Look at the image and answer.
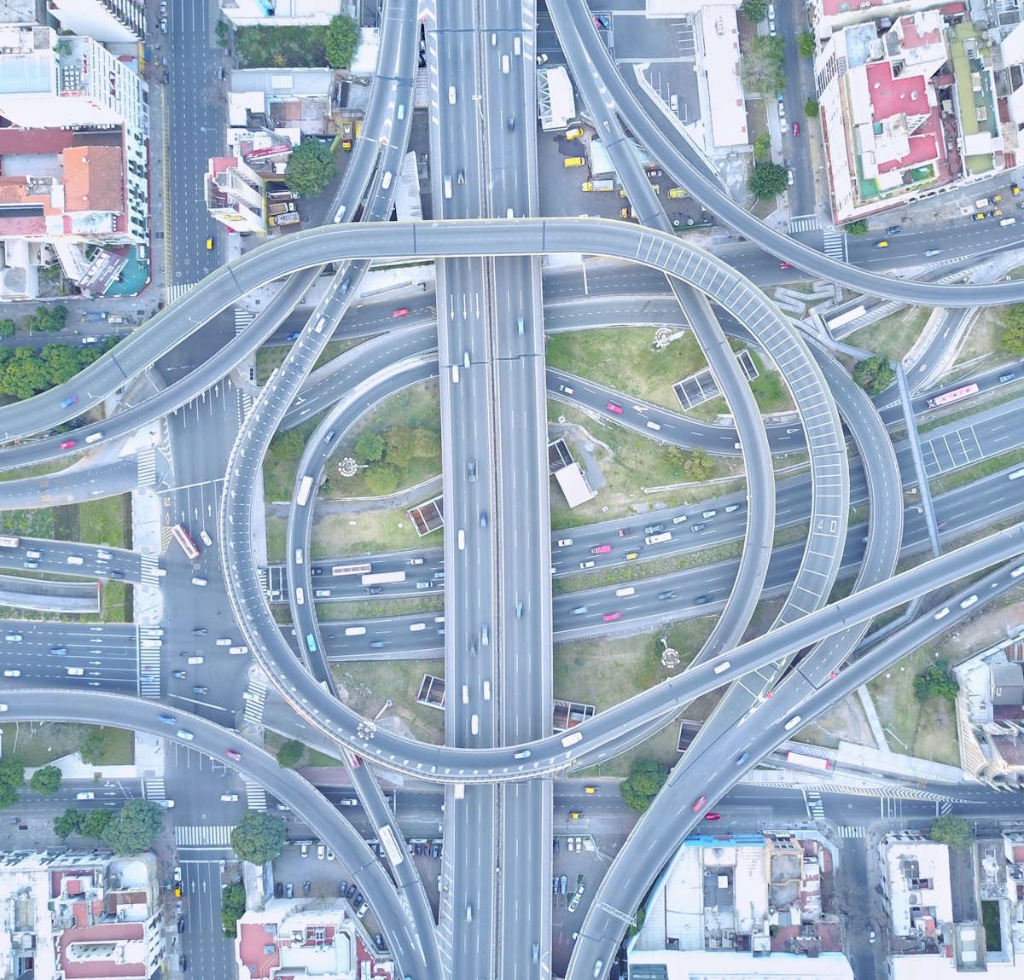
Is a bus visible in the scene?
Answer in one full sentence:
Yes, looking at the shot, I can spot a bus.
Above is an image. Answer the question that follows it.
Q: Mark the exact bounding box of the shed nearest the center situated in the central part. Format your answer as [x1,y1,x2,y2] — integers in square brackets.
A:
[555,463,597,507]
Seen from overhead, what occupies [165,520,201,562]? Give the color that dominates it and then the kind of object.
white bus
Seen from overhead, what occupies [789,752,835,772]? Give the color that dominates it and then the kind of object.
white bus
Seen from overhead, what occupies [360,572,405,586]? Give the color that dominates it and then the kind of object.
white vehicle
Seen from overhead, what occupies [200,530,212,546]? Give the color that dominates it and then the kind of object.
white vehicle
